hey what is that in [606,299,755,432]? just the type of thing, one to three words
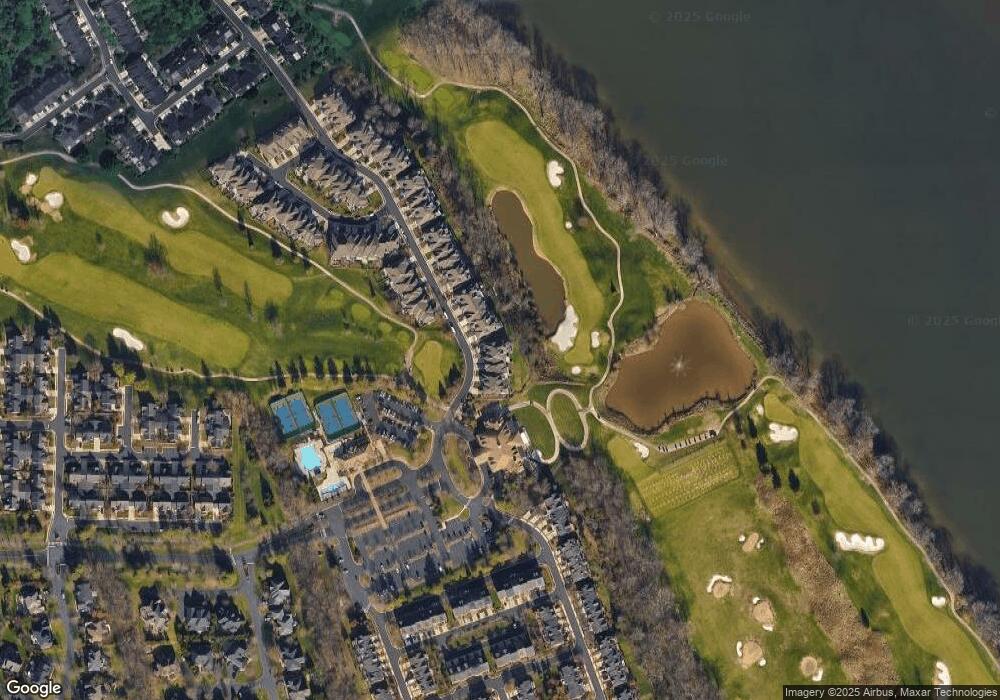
pond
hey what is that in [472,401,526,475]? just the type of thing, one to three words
building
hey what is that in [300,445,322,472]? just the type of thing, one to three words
swimming pool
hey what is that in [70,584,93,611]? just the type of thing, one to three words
house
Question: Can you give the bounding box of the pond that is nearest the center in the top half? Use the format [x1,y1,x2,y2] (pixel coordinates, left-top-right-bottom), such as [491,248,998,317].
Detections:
[493,190,565,336]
